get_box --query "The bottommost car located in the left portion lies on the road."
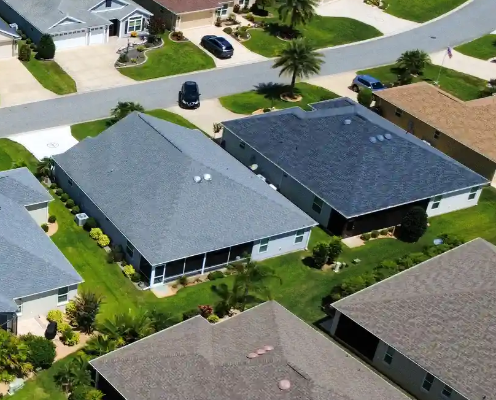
[181,80,201,106]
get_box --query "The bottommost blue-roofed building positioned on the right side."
[220,95,488,239]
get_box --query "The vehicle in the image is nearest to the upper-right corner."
[353,68,394,91]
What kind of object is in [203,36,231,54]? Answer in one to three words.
car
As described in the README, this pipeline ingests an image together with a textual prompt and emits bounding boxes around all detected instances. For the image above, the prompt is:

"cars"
[353,68,394,91]
[181,80,201,106]
[203,36,231,54]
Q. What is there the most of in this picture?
buildings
